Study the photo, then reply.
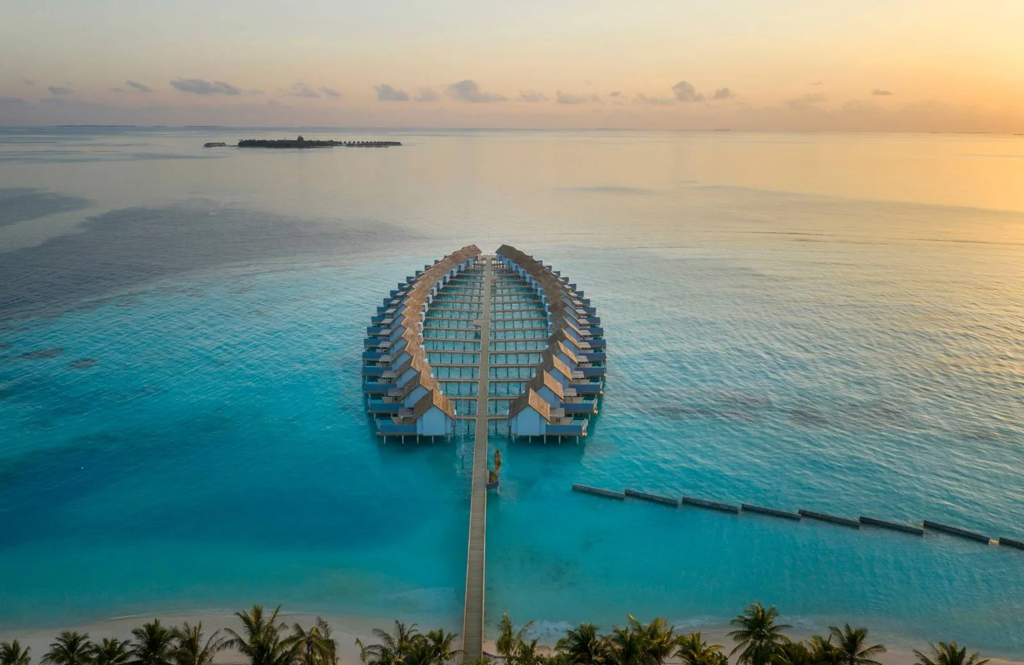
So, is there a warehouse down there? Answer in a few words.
No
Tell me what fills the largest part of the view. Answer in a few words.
water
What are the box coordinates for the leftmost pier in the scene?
[462,254,499,665]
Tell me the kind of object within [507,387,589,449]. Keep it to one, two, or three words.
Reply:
house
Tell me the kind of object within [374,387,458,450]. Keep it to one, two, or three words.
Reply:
house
